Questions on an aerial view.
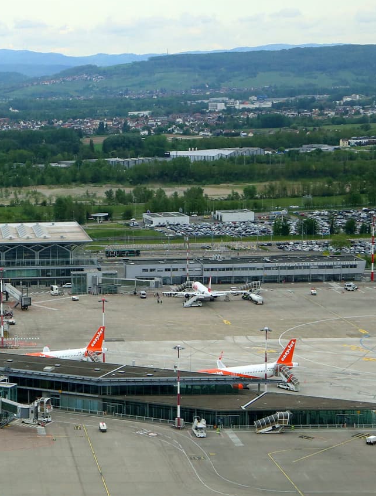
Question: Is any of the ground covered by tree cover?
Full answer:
Yes, tree cover shows up in the scene.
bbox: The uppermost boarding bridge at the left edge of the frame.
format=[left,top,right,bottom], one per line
[1,280,29,307]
